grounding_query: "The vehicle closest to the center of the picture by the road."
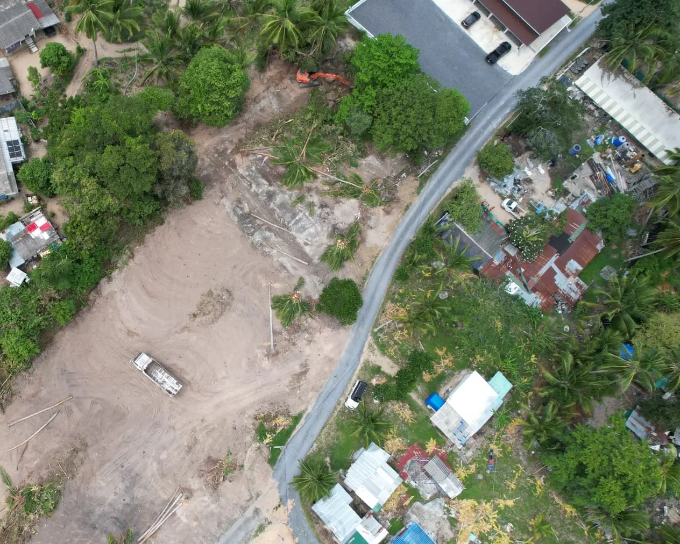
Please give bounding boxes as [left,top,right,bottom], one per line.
[345,381,369,411]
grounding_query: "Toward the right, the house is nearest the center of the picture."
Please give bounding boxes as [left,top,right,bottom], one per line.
[435,206,510,271]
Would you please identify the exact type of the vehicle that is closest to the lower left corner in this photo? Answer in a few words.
truck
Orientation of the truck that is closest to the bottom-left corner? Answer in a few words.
diagonally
